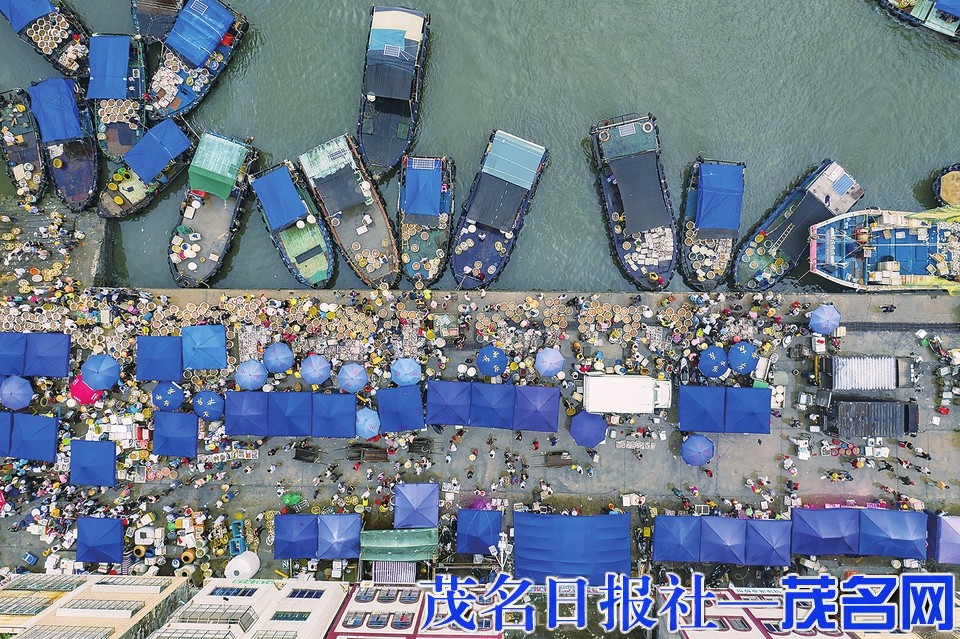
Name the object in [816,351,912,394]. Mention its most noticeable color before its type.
white truck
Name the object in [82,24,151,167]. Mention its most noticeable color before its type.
blue boat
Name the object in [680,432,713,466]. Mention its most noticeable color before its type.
blue umbrella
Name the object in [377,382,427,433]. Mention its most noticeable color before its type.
blue tent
